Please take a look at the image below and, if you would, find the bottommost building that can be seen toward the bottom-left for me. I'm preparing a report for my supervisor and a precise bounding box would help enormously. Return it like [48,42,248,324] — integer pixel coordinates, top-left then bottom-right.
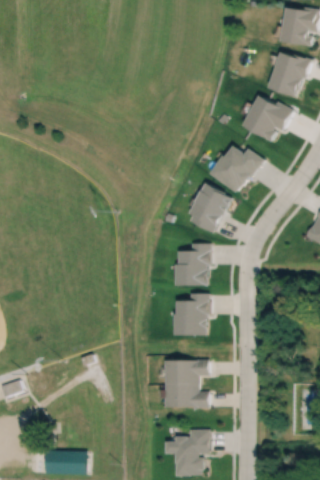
[43,449,94,474]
